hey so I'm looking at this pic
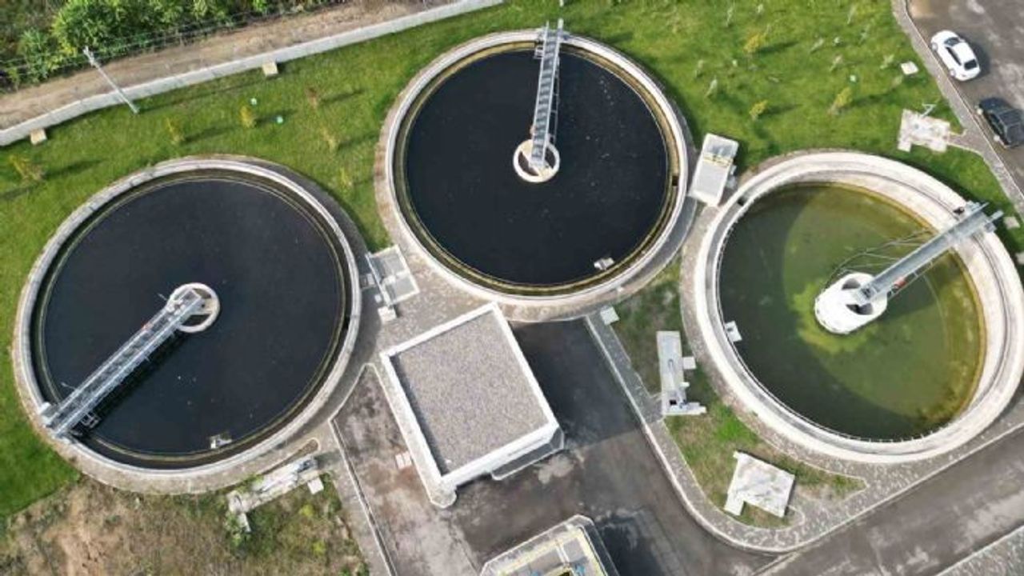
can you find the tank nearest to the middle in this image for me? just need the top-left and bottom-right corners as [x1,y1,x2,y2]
[382,32,688,307]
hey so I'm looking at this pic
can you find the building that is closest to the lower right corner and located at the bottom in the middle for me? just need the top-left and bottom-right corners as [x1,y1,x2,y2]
[495,524,607,576]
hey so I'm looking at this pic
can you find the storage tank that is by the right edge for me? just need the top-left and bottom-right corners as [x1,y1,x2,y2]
[690,151,1024,464]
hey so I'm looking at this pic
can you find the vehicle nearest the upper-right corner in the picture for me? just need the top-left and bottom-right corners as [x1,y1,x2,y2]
[930,29,979,80]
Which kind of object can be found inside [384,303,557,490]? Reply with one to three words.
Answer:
building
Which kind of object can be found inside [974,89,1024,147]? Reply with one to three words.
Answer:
car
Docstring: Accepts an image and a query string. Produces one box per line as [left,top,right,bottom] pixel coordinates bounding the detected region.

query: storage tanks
[21,160,363,479]
[690,151,1024,464]
[382,32,688,307]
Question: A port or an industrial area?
industrial area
